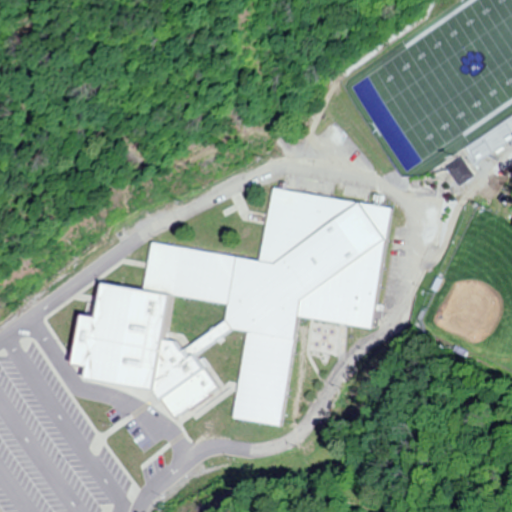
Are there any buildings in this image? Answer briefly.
Yes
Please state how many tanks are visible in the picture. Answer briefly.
0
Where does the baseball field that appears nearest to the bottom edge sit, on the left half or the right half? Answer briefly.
right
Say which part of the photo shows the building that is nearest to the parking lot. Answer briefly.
center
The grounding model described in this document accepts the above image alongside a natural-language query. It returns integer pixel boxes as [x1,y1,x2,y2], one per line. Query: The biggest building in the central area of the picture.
[71,186,392,426]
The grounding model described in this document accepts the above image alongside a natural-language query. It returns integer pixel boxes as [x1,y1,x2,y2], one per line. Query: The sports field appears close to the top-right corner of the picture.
[342,0,512,182]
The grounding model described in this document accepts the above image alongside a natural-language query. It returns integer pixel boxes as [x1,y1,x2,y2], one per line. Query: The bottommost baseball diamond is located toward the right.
[426,207,512,374]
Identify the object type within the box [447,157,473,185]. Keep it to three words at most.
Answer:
building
